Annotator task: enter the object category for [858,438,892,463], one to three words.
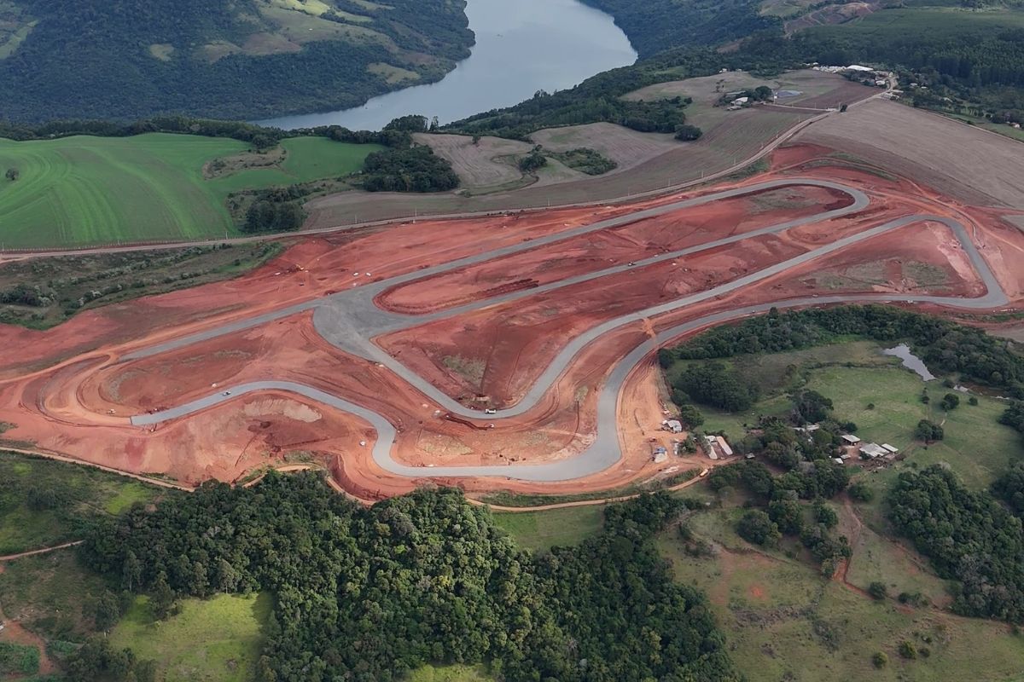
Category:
barn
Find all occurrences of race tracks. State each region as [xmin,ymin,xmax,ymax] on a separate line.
[117,179,1007,480]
